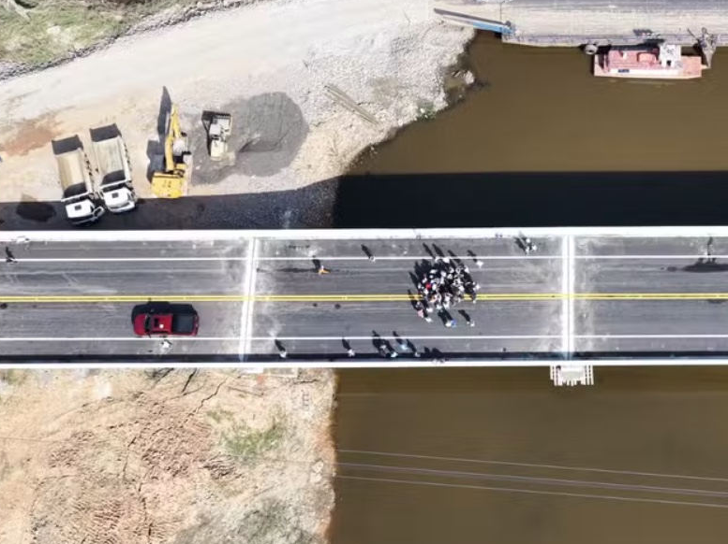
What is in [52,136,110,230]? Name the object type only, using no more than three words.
truck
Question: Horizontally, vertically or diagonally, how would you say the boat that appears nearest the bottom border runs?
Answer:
horizontally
